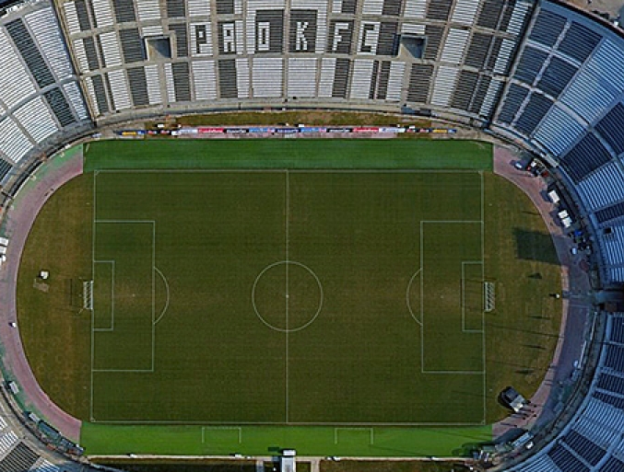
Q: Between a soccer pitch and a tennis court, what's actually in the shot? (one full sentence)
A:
The one in the frame is a soccer pitch.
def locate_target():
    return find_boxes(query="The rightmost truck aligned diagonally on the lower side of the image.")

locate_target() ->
[496,383,525,414]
